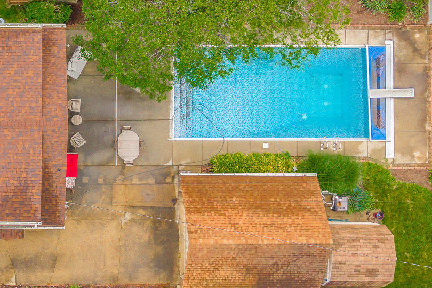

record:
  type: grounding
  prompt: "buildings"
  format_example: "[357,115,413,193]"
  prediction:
[169,173,331,288]
[0,21,70,239]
